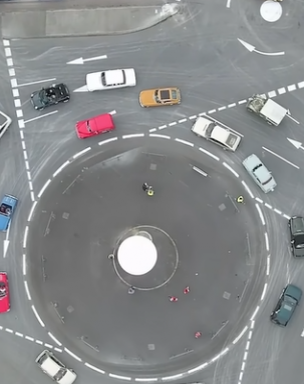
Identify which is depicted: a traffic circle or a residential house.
traffic circle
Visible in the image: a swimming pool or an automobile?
automobile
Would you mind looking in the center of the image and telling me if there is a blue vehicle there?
No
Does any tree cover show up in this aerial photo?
No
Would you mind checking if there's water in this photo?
No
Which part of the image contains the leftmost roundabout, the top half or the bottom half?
bottom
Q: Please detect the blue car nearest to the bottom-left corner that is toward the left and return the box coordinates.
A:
[0,195,18,231]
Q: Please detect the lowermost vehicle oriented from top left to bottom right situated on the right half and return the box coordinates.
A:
[243,155,276,193]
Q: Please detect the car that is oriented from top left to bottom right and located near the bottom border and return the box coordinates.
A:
[37,351,75,384]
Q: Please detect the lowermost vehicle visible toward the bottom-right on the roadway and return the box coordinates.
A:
[271,285,301,326]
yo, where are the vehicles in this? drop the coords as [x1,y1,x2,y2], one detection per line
[0,113,11,139]
[0,195,18,231]
[87,68,136,91]
[37,351,75,384]
[193,118,239,151]
[0,272,11,313]
[76,114,115,138]
[246,93,287,126]
[290,216,304,258]
[31,84,69,109]
[243,155,276,193]
[271,285,301,326]
[139,86,181,107]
